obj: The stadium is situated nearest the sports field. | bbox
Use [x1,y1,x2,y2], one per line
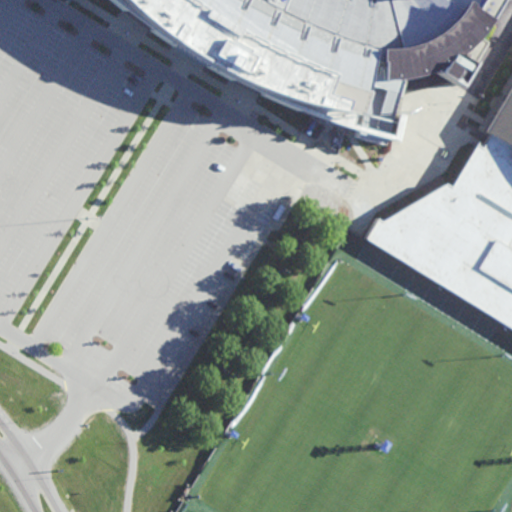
[108,0,512,149]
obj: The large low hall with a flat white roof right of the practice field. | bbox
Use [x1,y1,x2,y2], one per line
[364,78,512,330]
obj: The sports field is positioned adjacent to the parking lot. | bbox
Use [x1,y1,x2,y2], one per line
[179,250,512,512]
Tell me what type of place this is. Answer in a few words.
sports ground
